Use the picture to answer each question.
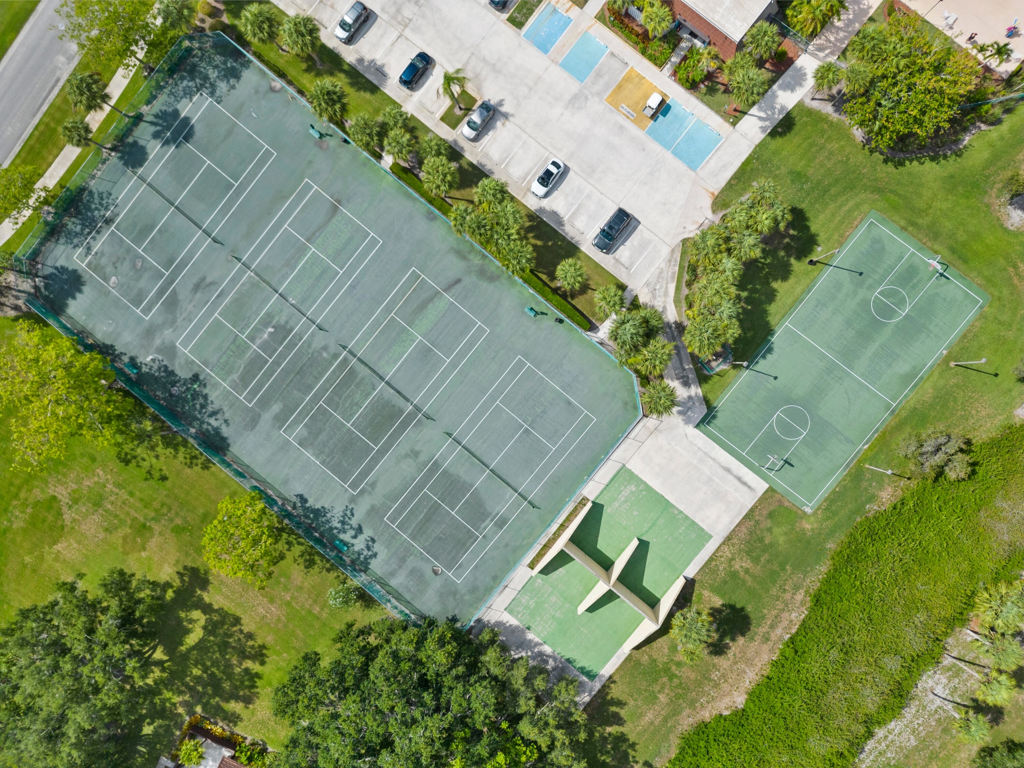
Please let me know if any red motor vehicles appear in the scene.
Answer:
No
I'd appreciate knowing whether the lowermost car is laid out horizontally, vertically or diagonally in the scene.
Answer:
diagonally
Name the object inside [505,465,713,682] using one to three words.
sports court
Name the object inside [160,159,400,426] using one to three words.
tennis court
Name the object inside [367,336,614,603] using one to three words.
tennis court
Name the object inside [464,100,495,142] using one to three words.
car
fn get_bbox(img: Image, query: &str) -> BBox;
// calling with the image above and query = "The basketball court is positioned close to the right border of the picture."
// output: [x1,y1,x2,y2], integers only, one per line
[696,209,991,514]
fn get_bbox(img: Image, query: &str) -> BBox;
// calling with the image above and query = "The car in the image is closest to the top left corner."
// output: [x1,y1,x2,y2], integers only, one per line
[336,2,369,44]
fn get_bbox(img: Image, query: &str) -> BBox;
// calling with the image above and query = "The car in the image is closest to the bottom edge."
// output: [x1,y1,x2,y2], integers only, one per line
[595,208,632,252]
